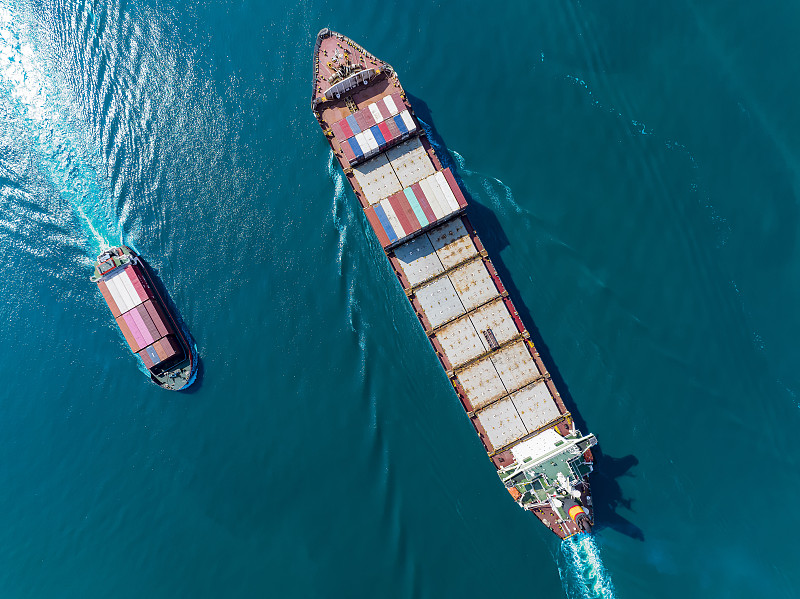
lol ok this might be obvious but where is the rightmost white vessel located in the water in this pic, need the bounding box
[313,28,597,540]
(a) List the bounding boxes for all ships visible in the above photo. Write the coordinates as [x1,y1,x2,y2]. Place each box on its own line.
[313,28,597,540]
[88,243,193,390]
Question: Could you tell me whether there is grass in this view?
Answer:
No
